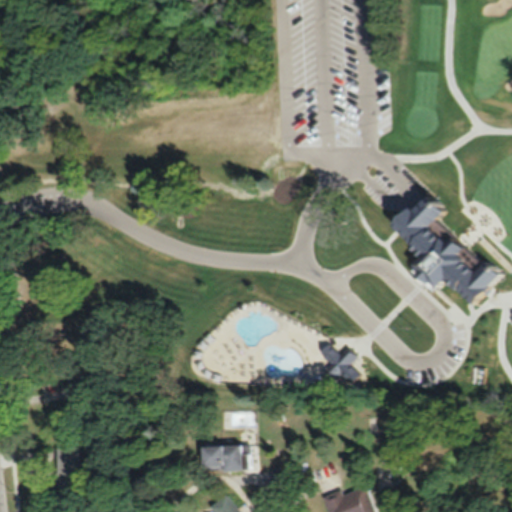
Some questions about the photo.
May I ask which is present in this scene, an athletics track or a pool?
pool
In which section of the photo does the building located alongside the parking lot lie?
right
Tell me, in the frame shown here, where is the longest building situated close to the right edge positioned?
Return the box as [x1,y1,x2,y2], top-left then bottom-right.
[387,198,505,304]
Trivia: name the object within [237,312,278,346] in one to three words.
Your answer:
swimming pool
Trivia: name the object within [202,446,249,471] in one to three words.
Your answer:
house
